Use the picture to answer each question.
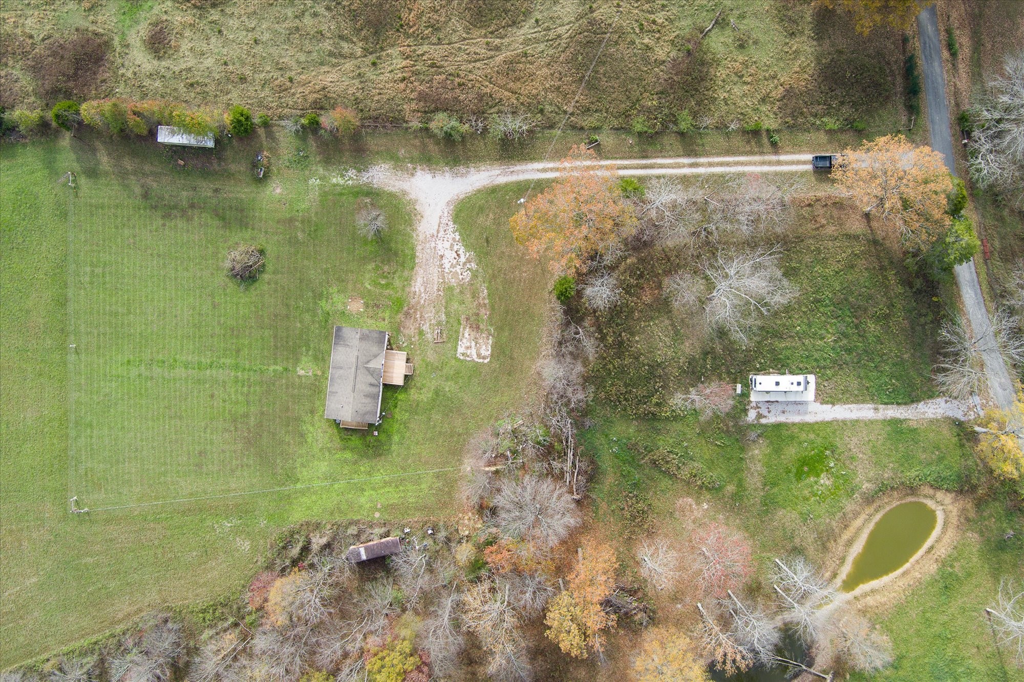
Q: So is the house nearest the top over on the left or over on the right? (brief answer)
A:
left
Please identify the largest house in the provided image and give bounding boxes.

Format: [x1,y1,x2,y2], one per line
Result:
[324,326,388,423]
